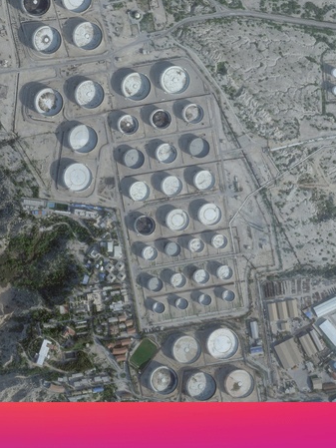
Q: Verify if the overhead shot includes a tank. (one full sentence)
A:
Yes, the image includes a tank.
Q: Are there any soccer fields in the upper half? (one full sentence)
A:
No, in the upper half there is no soccer field.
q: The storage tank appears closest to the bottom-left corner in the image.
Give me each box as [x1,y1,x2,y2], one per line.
[150,366,179,400]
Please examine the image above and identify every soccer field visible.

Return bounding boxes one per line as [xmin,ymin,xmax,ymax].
[128,335,160,370]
